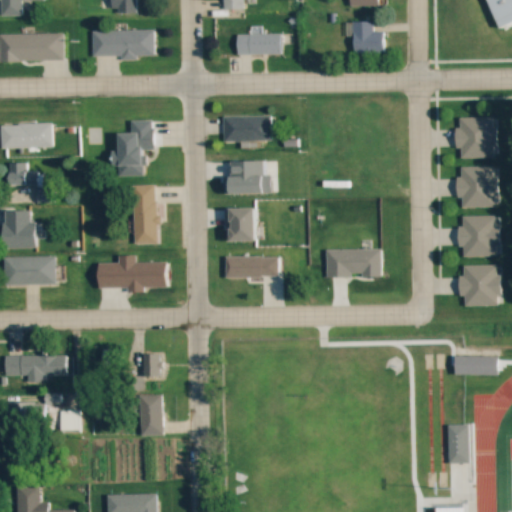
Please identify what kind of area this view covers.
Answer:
residential area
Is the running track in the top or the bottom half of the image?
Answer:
bottom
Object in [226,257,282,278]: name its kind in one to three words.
house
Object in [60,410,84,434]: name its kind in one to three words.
building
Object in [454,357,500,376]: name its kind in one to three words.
building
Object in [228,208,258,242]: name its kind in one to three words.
house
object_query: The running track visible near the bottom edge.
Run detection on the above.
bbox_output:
[476,370,512,512]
